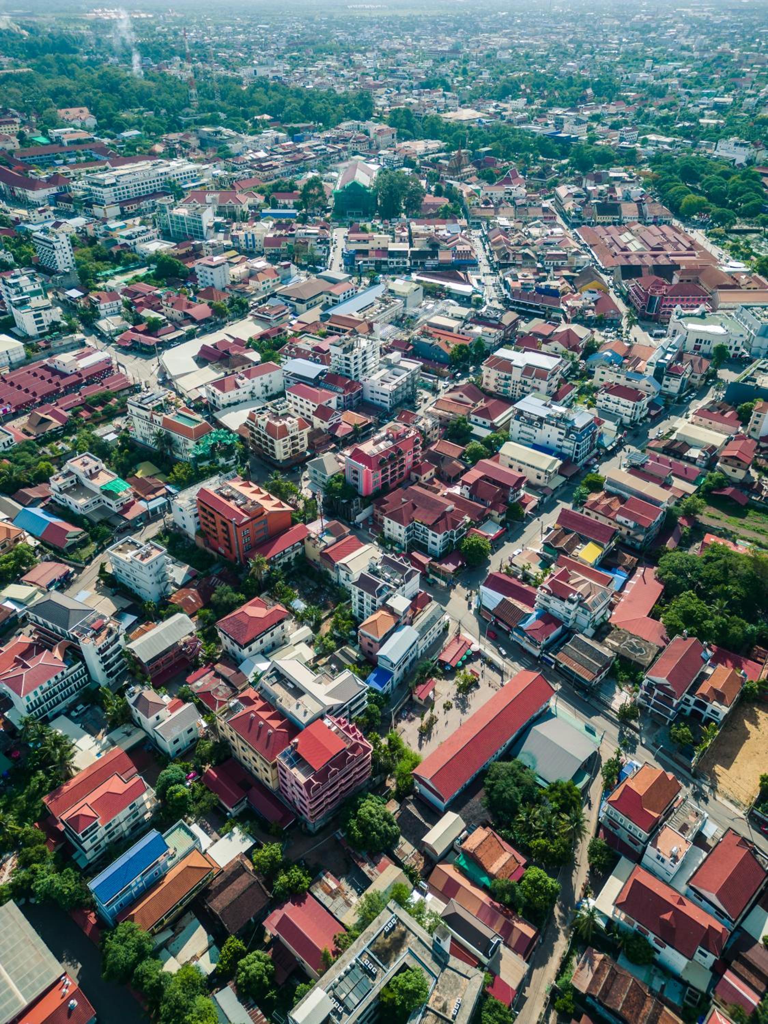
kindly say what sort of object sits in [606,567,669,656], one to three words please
shed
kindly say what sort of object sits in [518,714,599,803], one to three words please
building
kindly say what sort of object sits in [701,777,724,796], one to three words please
car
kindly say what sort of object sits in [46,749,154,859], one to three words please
house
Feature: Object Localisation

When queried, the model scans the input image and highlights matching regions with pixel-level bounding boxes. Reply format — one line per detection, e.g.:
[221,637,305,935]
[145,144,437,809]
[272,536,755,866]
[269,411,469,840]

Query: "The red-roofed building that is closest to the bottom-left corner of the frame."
[19,976,100,1024]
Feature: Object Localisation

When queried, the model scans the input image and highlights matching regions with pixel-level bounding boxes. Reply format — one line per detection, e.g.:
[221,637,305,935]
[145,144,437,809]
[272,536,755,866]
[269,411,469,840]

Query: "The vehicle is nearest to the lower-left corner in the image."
[67,701,90,717]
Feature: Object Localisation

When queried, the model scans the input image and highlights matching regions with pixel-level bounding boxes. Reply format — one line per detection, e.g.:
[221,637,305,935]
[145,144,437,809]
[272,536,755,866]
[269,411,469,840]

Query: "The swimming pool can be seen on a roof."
[174,411,200,424]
